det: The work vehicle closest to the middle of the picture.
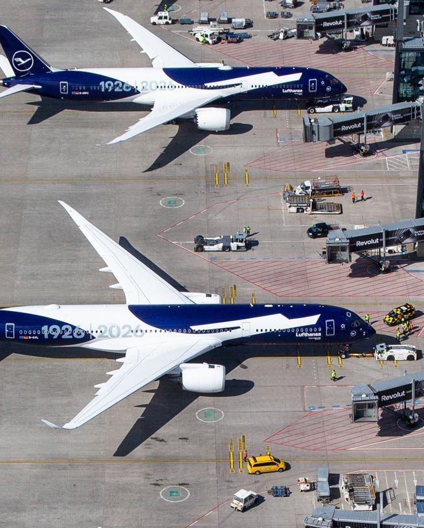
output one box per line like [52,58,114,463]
[197,233,248,252]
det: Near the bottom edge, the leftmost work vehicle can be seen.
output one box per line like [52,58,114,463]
[230,487,257,510]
